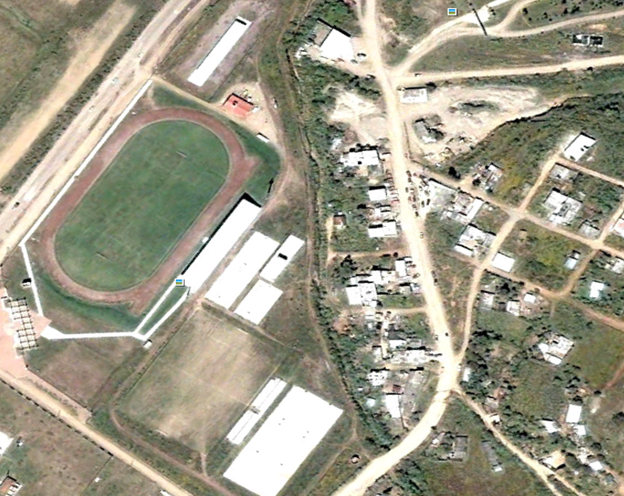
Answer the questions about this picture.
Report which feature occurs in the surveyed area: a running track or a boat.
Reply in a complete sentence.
It is a running track that can be seen here.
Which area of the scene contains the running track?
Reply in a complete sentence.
You can find the running track in the left area of the picture.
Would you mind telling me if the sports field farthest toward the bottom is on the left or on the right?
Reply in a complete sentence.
It is on the left.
